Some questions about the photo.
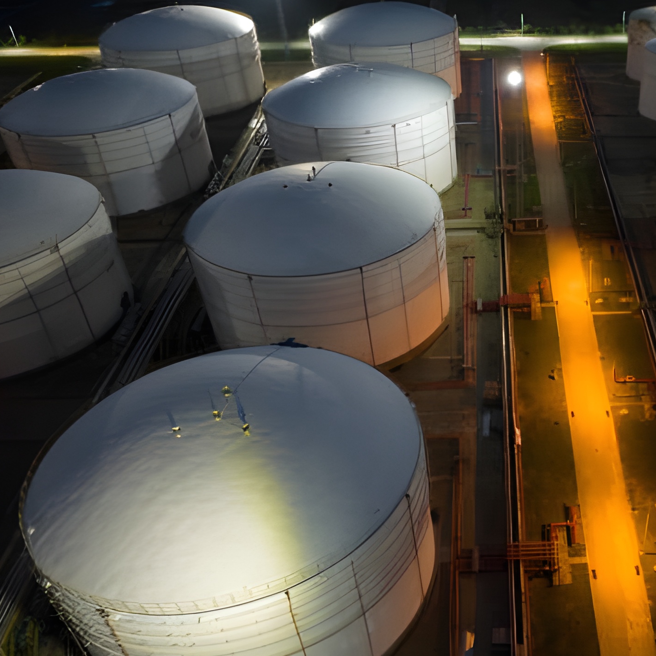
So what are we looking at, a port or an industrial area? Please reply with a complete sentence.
The picture captures an industrial area.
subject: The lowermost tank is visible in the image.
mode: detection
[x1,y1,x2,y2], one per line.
[0,337,439,656]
